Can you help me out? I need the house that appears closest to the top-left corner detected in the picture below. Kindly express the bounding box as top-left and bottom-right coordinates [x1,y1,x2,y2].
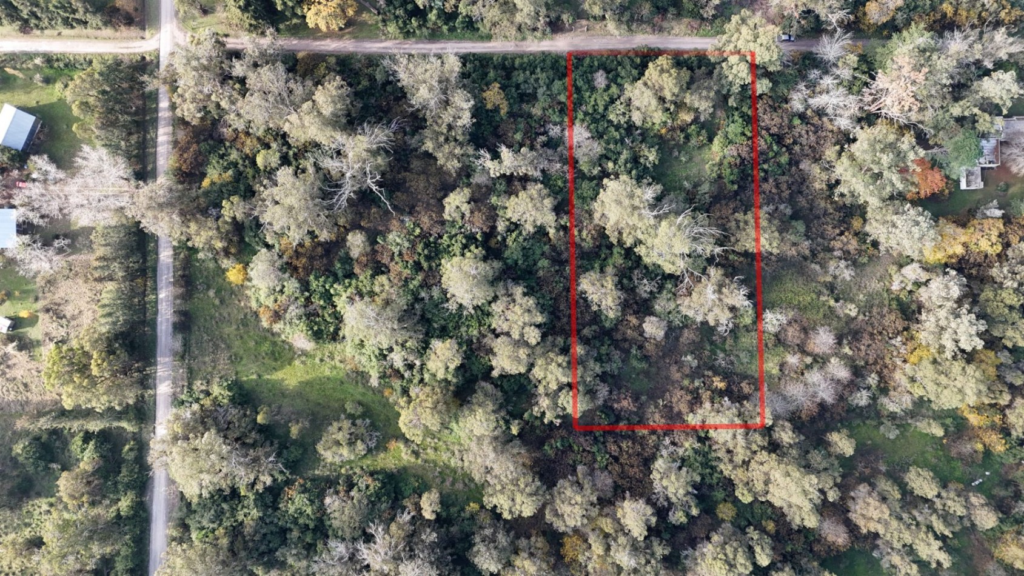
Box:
[0,104,45,154]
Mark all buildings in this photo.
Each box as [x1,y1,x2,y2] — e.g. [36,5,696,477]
[0,316,18,335]
[955,116,1024,190]
[0,208,22,248]
[0,104,45,154]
